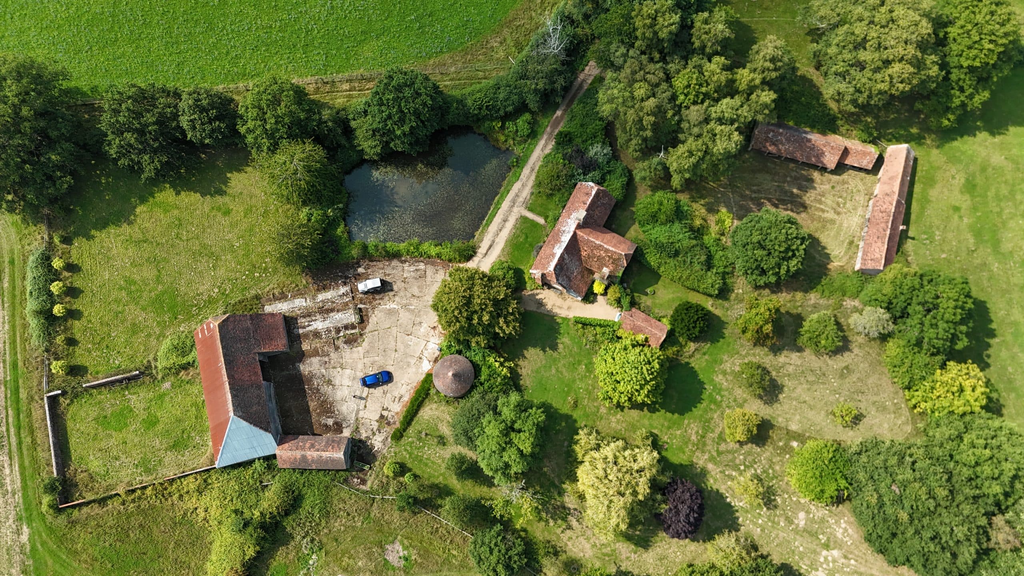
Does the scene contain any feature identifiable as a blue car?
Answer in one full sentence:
Yes, looking at the shot, I can spot a blue car.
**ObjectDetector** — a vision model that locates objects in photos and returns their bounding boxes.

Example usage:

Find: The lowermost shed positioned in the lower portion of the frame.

[275,436,350,469]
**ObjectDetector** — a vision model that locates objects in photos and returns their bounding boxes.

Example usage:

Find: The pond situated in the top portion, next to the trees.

[344,128,512,245]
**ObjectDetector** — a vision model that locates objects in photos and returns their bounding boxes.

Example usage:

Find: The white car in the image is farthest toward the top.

[357,276,385,294]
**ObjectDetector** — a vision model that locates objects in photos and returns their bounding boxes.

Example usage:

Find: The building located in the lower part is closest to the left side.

[194,313,292,468]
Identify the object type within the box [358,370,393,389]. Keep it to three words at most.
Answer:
car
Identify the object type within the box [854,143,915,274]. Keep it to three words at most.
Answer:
building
